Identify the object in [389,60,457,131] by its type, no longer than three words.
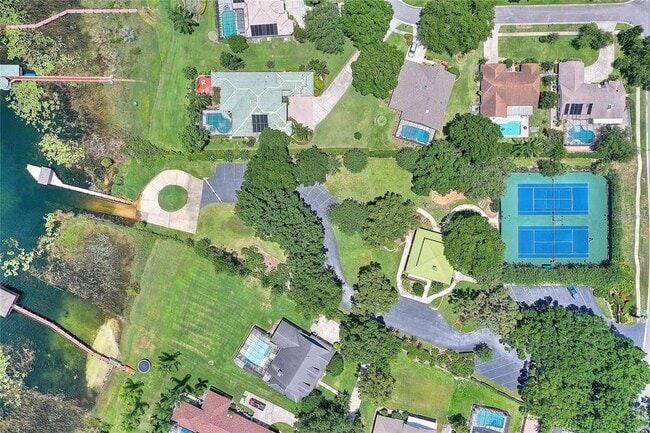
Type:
house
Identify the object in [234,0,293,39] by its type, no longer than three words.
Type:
house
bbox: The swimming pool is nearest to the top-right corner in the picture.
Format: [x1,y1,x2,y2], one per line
[564,119,599,146]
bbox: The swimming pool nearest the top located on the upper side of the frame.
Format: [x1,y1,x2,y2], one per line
[217,0,248,39]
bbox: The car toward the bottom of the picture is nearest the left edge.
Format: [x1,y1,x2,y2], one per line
[249,398,265,410]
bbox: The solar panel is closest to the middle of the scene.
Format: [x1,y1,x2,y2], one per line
[252,114,268,132]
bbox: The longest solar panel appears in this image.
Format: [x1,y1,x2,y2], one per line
[251,23,278,36]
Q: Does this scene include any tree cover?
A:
Yes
